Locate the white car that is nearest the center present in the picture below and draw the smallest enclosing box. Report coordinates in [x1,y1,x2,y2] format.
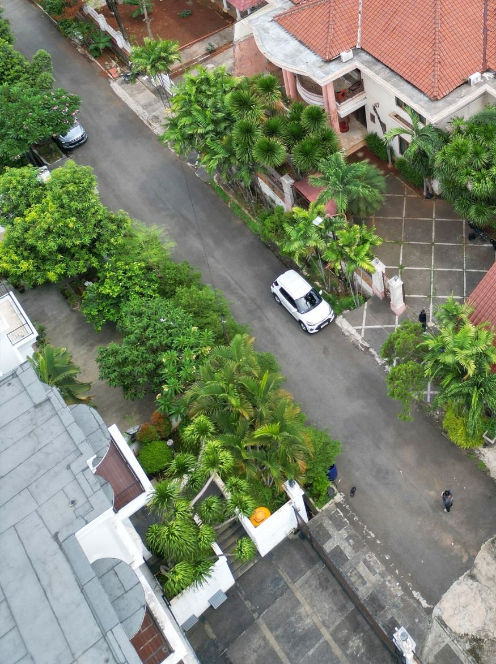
[269,268,336,335]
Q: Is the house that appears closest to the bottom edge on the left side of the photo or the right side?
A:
left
